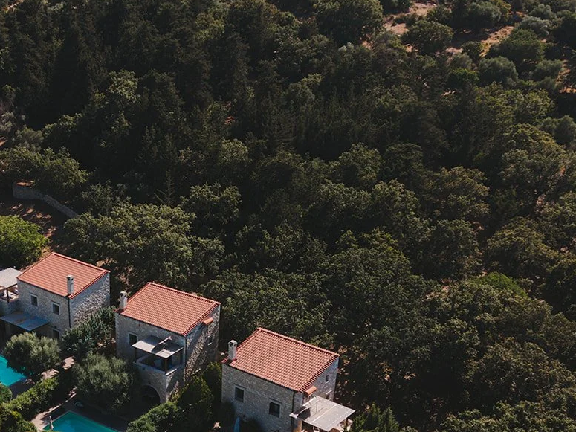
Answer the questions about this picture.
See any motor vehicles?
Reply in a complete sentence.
No, there isn't any motor vehicle down there.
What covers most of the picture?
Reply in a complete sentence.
The bulk of the photo consists of trees.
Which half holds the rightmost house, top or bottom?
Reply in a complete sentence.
The rightmost house sits in the bottom half of the picture.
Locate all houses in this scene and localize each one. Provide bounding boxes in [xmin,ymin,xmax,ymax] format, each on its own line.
[216,325,345,432]
[111,280,225,403]
[0,249,113,366]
